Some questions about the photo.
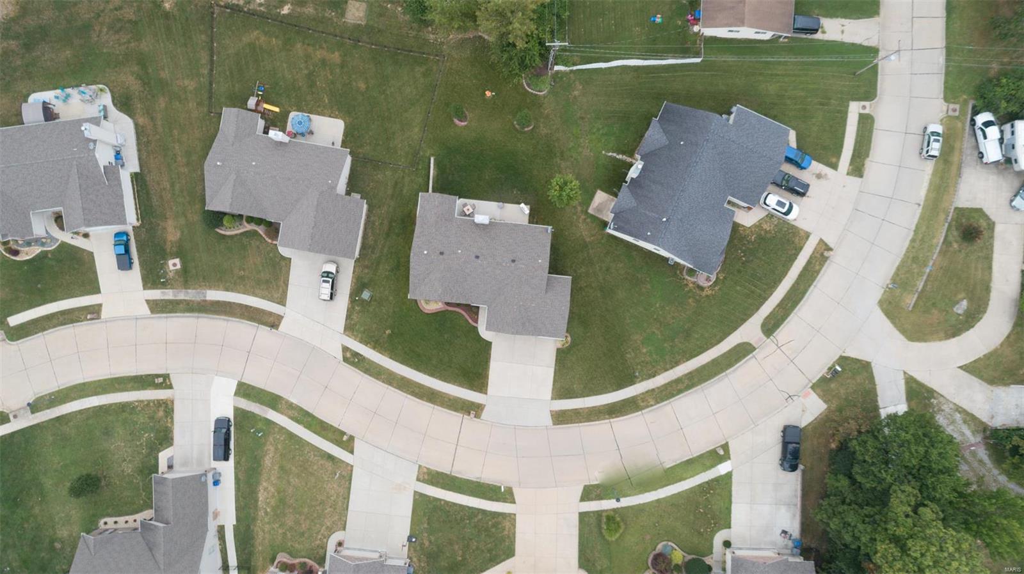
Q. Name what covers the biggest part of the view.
grass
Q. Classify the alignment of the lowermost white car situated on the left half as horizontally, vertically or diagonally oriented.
vertically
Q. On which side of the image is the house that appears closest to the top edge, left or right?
right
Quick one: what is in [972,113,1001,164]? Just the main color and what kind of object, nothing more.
white truck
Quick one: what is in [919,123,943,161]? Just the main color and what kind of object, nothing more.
white car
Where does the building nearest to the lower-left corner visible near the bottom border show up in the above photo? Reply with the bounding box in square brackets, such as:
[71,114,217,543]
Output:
[68,468,215,574]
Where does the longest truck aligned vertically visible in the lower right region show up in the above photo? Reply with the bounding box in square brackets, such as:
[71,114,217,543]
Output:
[780,424,801,471]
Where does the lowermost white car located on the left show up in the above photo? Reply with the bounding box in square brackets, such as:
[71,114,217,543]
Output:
[318,262,339,302]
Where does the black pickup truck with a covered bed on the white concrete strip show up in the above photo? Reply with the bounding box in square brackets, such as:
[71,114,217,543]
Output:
[212,417,233,461]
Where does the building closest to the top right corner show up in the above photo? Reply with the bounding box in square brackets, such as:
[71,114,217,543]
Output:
[698,0,793,42]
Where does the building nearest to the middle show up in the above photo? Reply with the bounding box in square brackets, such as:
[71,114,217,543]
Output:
[409,191,572,340]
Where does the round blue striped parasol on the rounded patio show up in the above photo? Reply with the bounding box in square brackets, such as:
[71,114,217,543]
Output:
[290,113,311,134]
